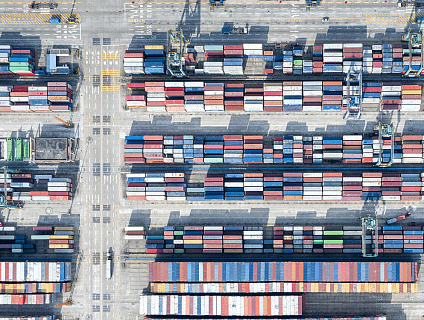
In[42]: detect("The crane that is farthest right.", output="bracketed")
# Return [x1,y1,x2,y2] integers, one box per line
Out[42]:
[400,27,424,78]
